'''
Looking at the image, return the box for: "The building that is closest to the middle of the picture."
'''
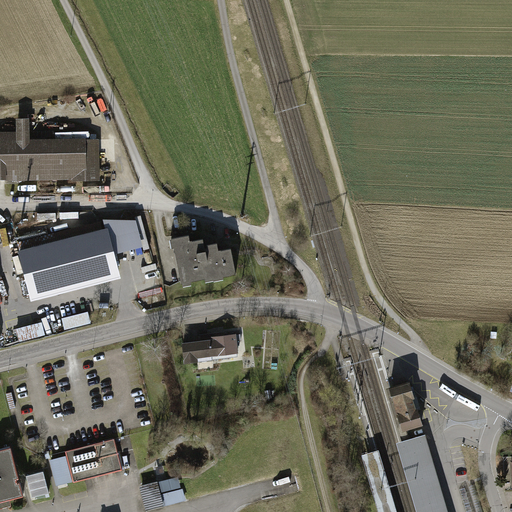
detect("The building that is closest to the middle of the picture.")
[170,236,234,288]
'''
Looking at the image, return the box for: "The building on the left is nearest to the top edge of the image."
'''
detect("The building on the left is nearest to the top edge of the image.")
[0,118,100,181]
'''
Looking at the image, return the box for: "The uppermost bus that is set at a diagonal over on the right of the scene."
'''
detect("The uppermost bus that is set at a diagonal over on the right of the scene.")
[440,384,480,411]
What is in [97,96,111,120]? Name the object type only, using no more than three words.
vehicle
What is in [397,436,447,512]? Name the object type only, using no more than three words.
building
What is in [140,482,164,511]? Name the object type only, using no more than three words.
shed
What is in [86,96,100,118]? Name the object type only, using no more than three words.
vehicle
